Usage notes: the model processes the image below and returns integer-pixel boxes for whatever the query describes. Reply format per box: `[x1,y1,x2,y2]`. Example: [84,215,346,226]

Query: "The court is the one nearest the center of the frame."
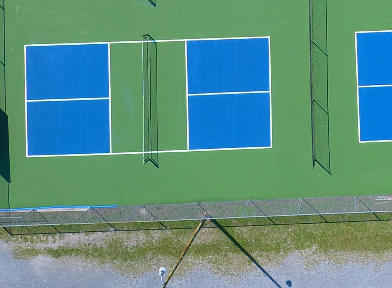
[188,94,271,150]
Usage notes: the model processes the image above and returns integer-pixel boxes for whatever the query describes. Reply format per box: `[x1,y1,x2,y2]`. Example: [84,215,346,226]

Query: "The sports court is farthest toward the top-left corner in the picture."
[25,43,109,101]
